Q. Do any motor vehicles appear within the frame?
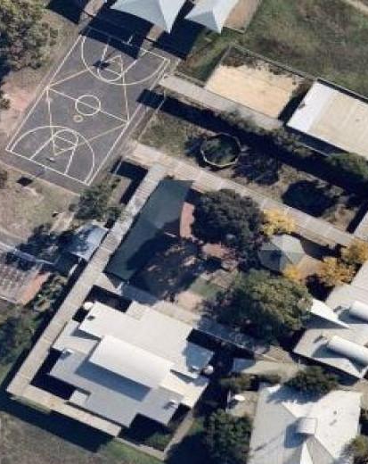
No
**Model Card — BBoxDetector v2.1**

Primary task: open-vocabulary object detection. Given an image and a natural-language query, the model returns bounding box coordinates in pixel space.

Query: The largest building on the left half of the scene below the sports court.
[48,301,214,427]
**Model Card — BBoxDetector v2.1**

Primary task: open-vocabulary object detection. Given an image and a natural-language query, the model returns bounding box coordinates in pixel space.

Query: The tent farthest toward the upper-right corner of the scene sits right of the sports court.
[183,0,234,36]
